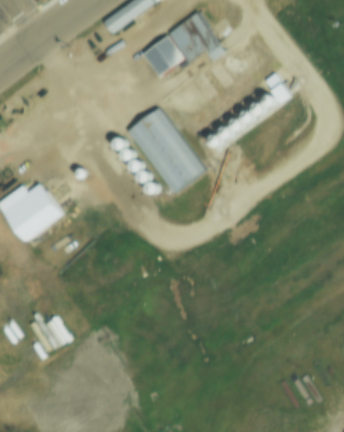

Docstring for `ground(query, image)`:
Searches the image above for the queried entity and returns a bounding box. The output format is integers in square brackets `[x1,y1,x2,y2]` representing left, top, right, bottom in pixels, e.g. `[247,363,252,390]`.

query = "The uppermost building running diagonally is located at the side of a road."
[106,0,156,34]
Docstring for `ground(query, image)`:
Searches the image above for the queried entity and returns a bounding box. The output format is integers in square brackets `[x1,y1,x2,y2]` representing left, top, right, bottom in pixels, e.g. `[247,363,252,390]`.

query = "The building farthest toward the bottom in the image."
[0,182,66,242]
